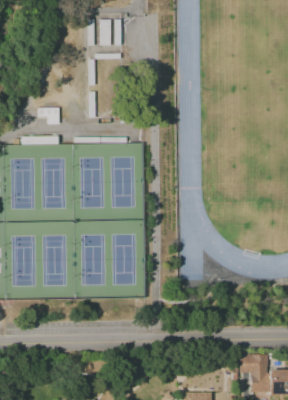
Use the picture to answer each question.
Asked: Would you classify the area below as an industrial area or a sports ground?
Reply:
sports ground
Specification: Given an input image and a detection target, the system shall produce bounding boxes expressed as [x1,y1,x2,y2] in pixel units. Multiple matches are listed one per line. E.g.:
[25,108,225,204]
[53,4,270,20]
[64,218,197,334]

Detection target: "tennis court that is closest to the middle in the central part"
[111,156,135,208]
